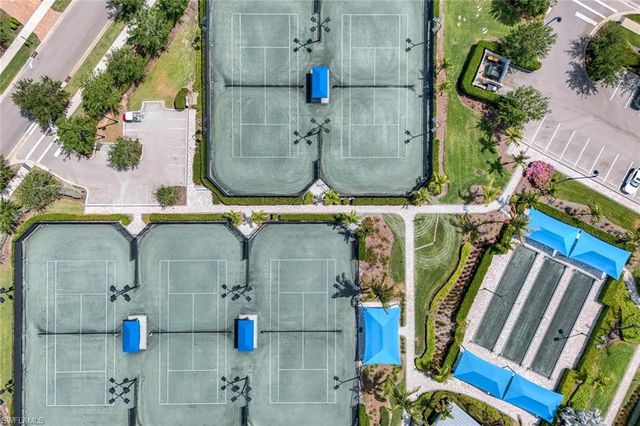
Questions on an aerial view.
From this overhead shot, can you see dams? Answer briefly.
No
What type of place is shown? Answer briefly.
sports ground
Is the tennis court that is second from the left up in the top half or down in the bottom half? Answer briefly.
bottom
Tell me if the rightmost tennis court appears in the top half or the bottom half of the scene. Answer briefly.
top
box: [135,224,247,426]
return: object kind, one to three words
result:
tennis court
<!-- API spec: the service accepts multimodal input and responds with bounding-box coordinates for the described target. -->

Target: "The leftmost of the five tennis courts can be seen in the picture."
[23,224,135,426]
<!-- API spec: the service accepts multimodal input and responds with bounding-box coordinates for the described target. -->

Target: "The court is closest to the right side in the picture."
[319,0,429,195]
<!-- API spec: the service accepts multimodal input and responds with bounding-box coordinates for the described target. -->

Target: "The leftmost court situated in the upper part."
[210,0,319,194]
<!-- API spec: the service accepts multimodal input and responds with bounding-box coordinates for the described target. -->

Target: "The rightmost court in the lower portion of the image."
[247,224,358,426]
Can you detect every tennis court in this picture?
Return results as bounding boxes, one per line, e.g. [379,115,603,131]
[319,0,429,195]
[247,224,358,426]
[135,224,247,426]
[23,224,135,426]
[210,0,319,194]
